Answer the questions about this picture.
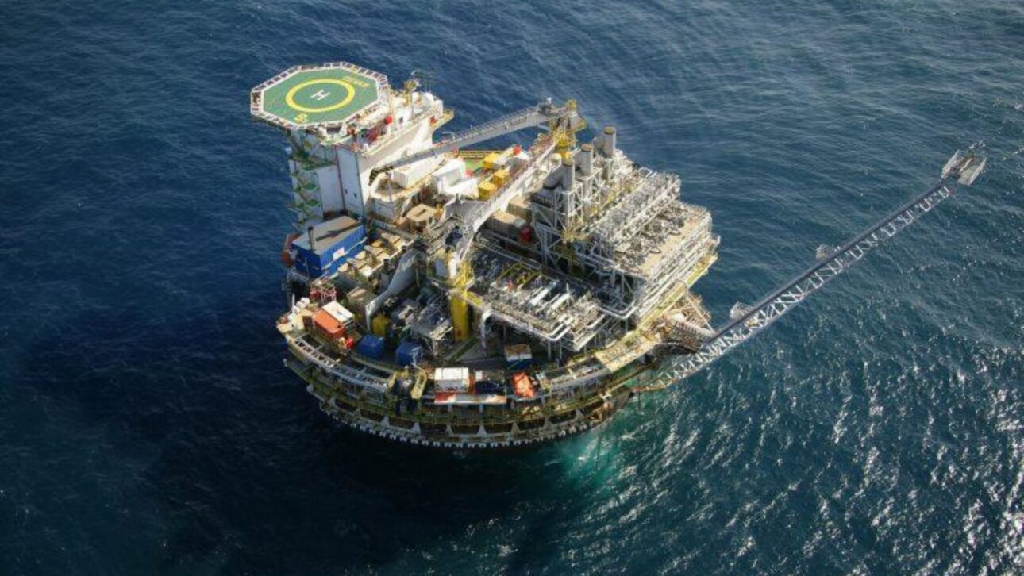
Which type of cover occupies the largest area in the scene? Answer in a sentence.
Most of the picture is covered by water.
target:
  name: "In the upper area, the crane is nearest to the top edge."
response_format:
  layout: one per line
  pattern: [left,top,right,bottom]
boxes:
[380,93,587,217]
